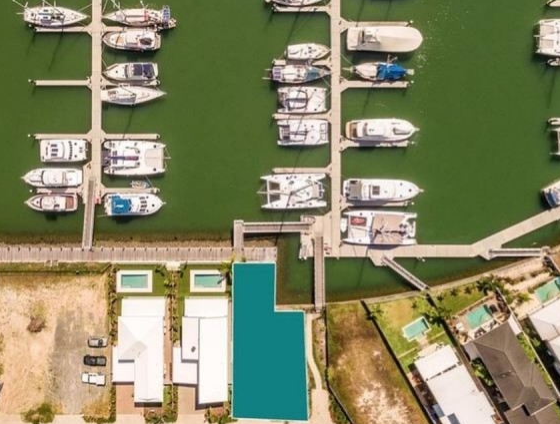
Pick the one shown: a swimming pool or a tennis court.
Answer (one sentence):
This aerial view contains a swimming pool.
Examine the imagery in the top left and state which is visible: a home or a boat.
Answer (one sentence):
You can see a boat in the top left.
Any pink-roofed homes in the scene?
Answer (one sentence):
No, I can see no pink-roofed home in this picture.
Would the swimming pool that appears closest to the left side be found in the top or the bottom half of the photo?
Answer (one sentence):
The swimming pool that appears closest to the left side is in the bottom half of the image.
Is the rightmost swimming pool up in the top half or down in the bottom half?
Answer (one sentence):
The bottom half of the photo is where the rightmost swimming pool is.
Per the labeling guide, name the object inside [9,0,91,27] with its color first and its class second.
white boat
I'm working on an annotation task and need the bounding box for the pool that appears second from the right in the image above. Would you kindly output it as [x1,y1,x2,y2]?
[463,302,495,331]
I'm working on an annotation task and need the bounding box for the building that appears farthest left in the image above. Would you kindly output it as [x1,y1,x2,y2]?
[112,297,166,404]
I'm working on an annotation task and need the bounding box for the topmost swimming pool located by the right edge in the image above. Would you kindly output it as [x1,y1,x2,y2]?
[534,277,560,302]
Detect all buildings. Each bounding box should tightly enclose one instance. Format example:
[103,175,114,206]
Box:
[414,343,501,424]
[463,315,560,424]
[526,294,560,369]
[112,297,166,404]
[173,296,229,405]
